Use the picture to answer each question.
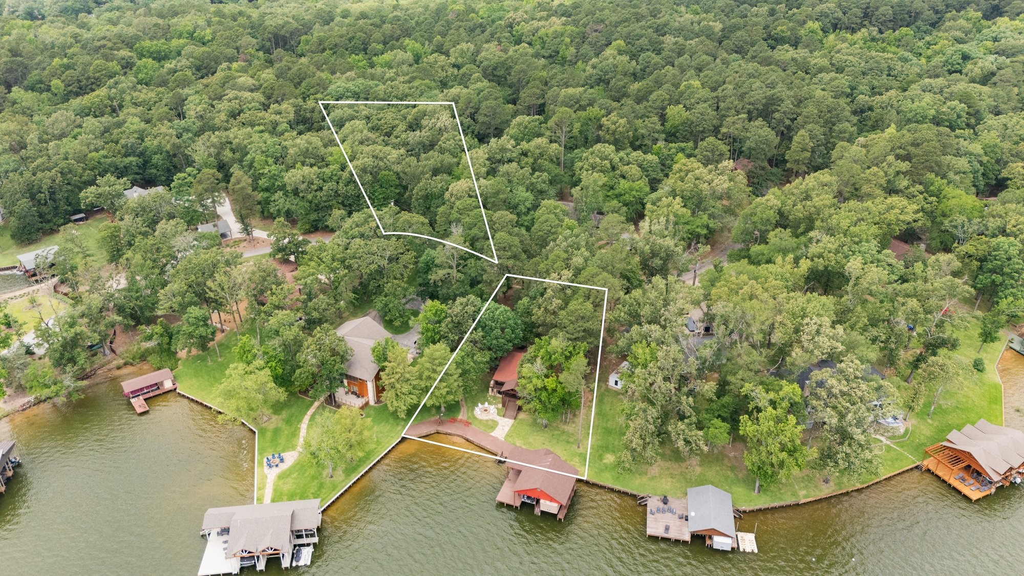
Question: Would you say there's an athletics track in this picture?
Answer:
No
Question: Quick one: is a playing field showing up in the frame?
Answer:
No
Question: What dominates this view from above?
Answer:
trees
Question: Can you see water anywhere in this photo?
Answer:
Yes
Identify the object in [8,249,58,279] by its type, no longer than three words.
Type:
building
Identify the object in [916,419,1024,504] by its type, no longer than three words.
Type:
building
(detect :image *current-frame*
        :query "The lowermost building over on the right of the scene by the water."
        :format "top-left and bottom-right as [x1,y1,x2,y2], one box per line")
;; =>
[636,485,742,554]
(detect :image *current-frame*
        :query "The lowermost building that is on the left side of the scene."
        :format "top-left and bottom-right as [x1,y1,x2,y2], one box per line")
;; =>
[197,499,327,576]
